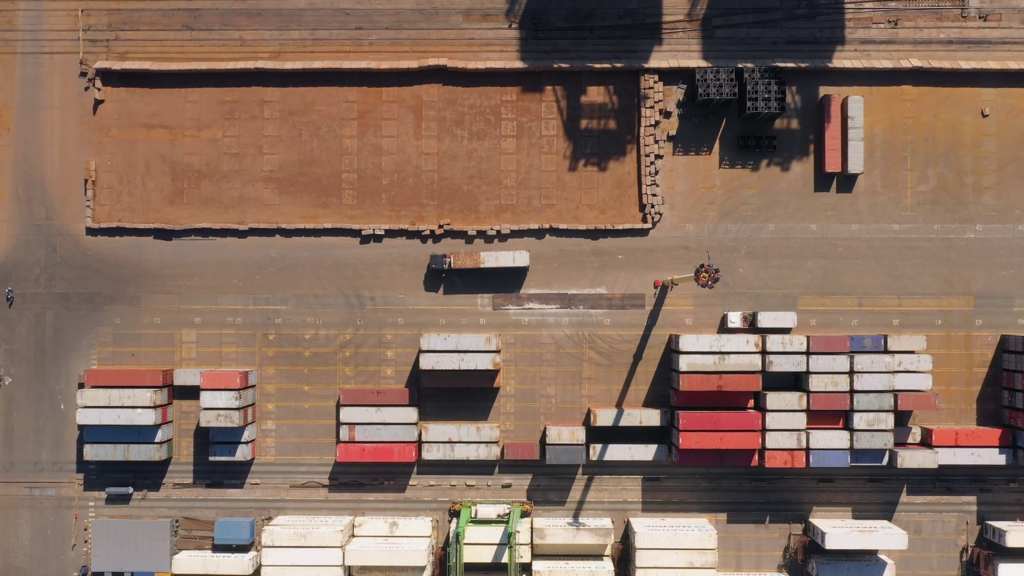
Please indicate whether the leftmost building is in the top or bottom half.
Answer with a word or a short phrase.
bottom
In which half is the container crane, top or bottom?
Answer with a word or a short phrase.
bottom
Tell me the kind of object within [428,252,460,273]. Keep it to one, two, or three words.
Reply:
truck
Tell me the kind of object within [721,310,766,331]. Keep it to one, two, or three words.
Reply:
truck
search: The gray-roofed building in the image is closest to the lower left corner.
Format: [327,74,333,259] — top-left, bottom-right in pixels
[91,517,176,571]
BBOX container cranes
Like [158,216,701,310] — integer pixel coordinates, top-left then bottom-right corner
[444,501,539,576]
